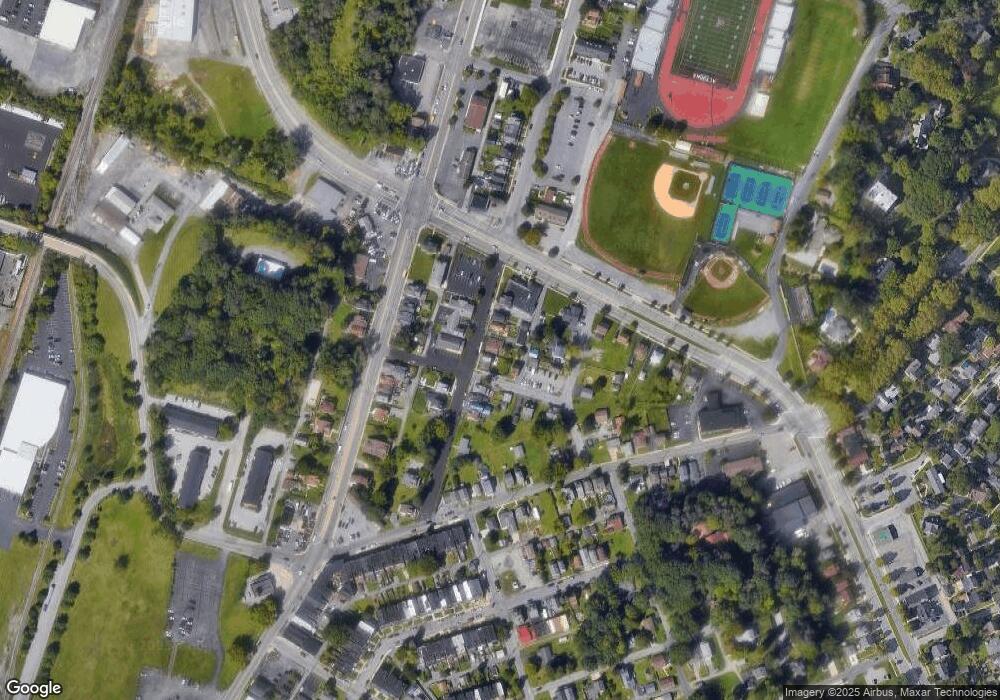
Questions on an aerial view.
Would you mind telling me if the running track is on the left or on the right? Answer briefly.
right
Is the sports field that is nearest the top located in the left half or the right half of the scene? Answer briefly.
right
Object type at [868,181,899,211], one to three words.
house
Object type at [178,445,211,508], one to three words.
building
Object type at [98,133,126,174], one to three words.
shed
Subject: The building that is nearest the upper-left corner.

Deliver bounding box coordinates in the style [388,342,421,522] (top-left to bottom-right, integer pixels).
[39,0,95,49]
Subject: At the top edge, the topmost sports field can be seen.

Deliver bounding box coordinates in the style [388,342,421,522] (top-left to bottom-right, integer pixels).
[673,0,760,90]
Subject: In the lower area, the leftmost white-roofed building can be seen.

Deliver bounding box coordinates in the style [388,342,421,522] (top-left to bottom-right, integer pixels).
[0,372,66,494]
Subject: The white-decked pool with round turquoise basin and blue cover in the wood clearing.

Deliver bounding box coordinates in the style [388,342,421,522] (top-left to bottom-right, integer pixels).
[256,257,285,279]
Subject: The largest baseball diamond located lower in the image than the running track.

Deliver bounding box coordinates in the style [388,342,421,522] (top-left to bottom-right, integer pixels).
[582,129,728,279]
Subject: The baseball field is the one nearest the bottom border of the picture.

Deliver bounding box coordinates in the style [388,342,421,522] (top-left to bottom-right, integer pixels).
[685,252,771,327]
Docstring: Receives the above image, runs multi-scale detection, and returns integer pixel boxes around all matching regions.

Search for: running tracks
[660,0,771,129]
